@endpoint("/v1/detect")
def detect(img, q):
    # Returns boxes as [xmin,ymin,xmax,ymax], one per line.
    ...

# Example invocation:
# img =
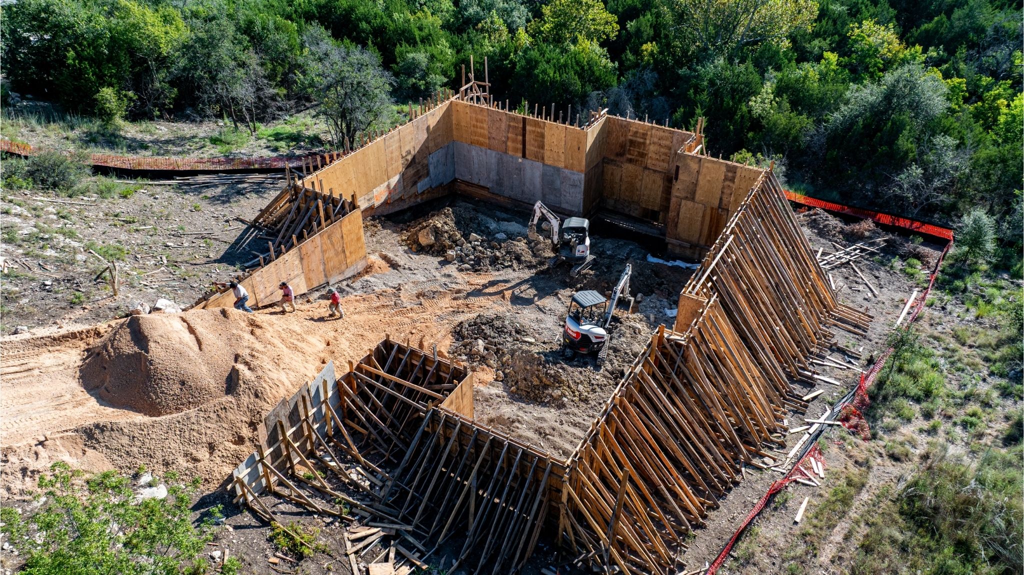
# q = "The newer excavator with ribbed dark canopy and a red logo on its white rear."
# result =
[560,268,640,363]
